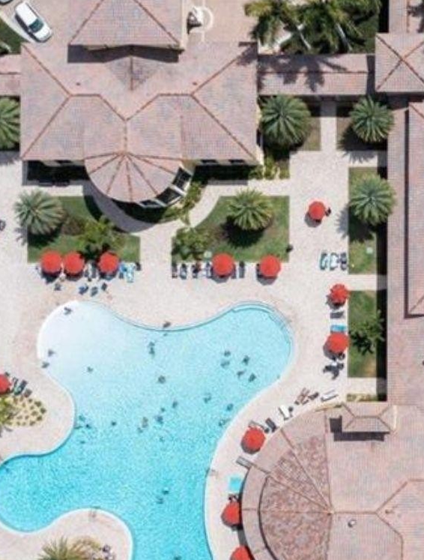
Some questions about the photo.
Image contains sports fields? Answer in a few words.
No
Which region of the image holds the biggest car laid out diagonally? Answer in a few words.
top left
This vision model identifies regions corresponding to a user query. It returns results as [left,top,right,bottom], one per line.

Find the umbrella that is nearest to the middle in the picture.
[213,251,238,275]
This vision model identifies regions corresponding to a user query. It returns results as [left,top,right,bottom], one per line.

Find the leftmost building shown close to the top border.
[15,0,262,206]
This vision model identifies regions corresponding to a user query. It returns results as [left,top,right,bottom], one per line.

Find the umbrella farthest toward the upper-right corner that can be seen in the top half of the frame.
[305,199,328,224]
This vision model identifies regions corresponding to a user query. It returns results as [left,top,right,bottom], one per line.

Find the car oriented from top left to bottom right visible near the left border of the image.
[16,1,53,42]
